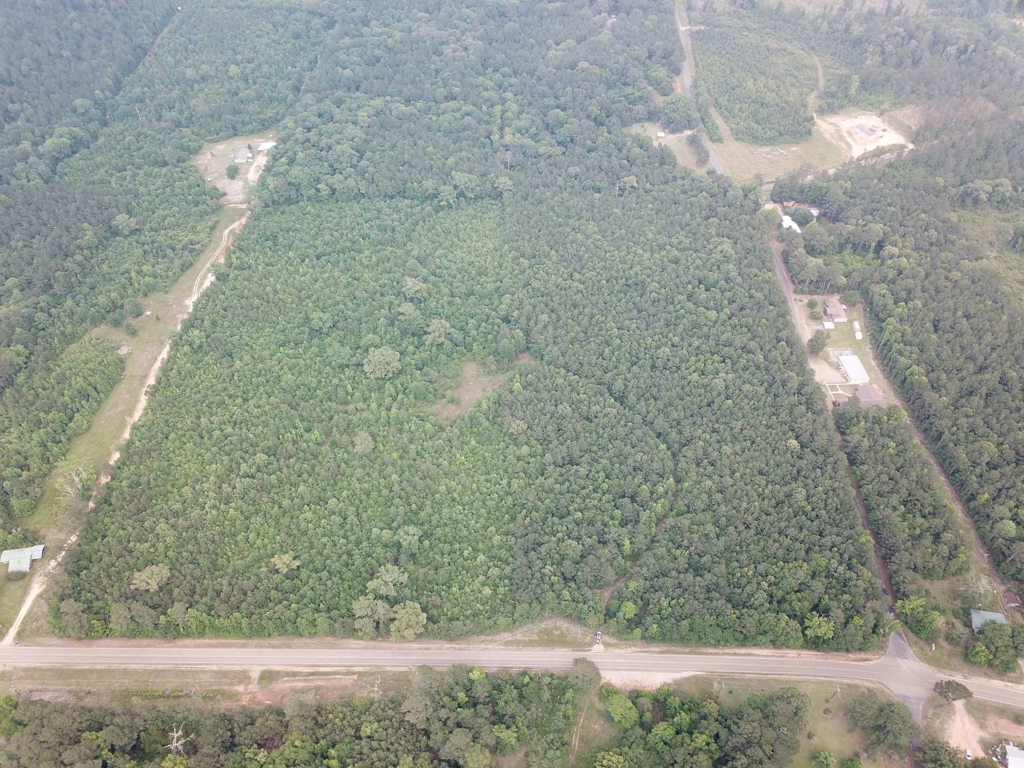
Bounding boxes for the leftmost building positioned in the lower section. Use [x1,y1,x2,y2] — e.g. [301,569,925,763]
[0,545,47,577]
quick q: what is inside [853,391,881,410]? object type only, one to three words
house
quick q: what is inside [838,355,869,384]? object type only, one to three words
building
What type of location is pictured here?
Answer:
forest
